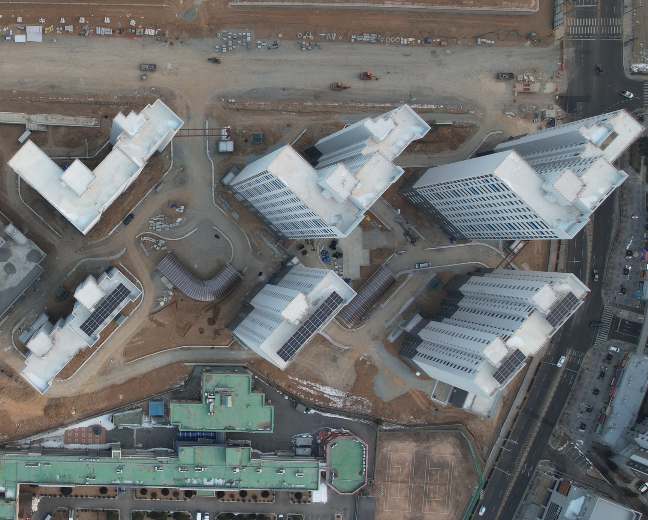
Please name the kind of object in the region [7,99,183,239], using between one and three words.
building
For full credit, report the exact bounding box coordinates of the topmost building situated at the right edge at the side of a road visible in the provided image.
[396,108,647,243]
